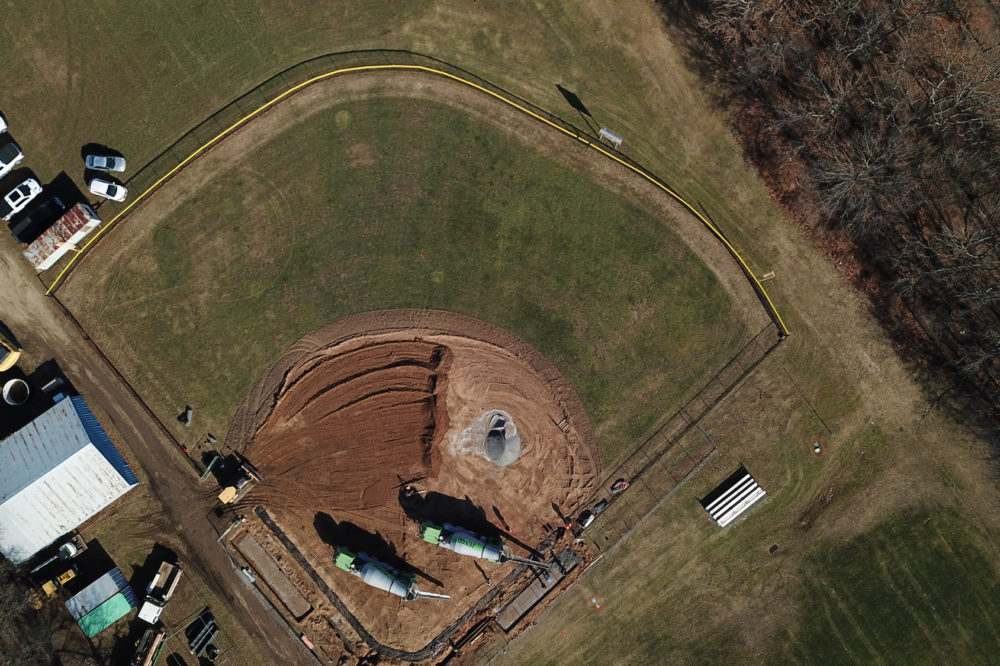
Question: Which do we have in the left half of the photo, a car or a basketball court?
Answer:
car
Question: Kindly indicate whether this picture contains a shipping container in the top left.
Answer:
No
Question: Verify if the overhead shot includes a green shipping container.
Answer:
Yes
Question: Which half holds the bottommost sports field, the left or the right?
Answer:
right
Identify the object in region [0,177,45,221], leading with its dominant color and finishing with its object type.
white truck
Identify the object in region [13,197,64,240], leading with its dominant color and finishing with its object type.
black truck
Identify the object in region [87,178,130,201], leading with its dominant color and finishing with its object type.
white car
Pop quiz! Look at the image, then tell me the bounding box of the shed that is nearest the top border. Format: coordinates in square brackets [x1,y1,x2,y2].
[21,203,104,269]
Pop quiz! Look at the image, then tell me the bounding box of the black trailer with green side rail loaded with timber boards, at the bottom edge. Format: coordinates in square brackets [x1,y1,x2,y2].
[138,628,174,666]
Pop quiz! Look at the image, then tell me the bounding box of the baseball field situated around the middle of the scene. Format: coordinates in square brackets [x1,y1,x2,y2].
[57,70,782,666]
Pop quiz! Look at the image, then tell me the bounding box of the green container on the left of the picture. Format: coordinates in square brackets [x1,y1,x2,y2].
[80,584,142,637]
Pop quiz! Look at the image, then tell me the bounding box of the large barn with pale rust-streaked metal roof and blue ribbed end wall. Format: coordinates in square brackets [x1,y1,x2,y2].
[0,395,141,568]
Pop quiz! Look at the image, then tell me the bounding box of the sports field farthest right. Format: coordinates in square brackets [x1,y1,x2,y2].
[778,522,1000,666]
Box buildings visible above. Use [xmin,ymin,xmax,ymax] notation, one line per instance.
[0,395,141,568]
[21,203,104,269]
